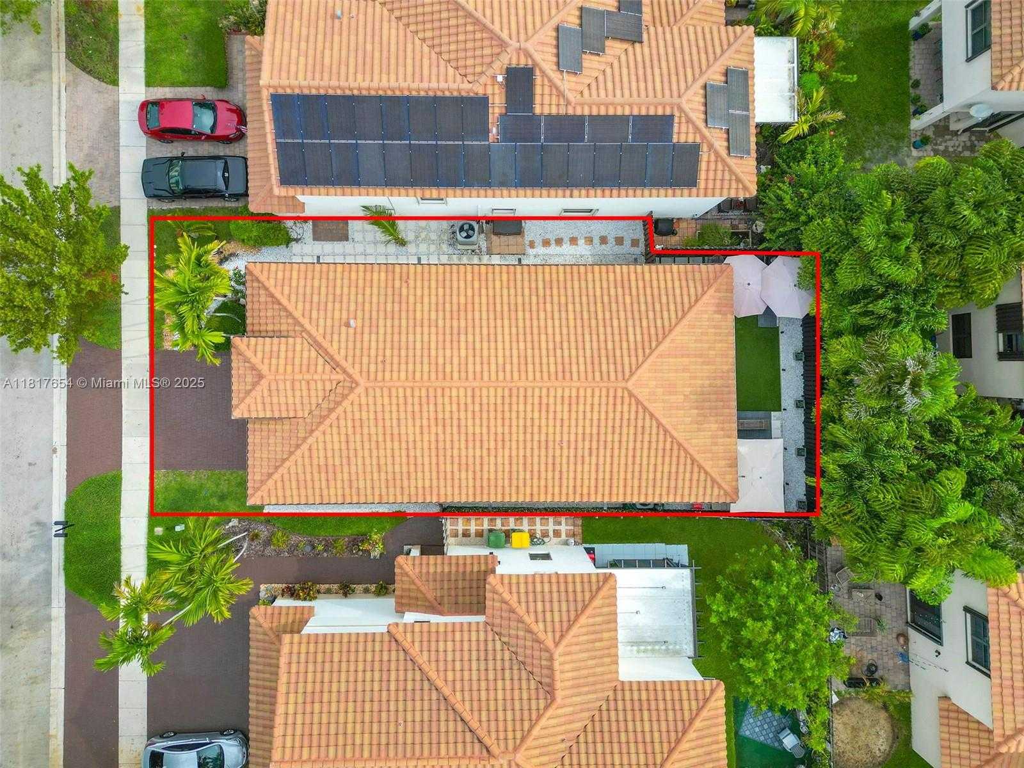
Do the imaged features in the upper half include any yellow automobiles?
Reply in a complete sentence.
No, no yellow automobile is visible in the upper half.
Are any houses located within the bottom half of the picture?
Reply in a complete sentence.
Yes, the scene does show a house within the bottom half of the picture.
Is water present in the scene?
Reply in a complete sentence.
No, there is no water in the image.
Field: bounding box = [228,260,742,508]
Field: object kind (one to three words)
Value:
house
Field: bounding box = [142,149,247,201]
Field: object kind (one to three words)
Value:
car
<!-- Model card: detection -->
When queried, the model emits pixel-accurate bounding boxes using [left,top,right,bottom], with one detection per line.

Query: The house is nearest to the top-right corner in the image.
[912,0,1024,166]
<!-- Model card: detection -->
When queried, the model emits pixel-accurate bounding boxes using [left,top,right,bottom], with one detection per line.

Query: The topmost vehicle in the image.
[139,90,246,142]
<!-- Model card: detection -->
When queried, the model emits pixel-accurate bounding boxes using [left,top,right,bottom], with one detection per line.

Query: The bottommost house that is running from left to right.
[248,546,731,768]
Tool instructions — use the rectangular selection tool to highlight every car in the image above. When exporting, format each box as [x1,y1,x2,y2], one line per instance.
[142,727,250,768]
[142,149,247,201]
[139,90,246,142]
